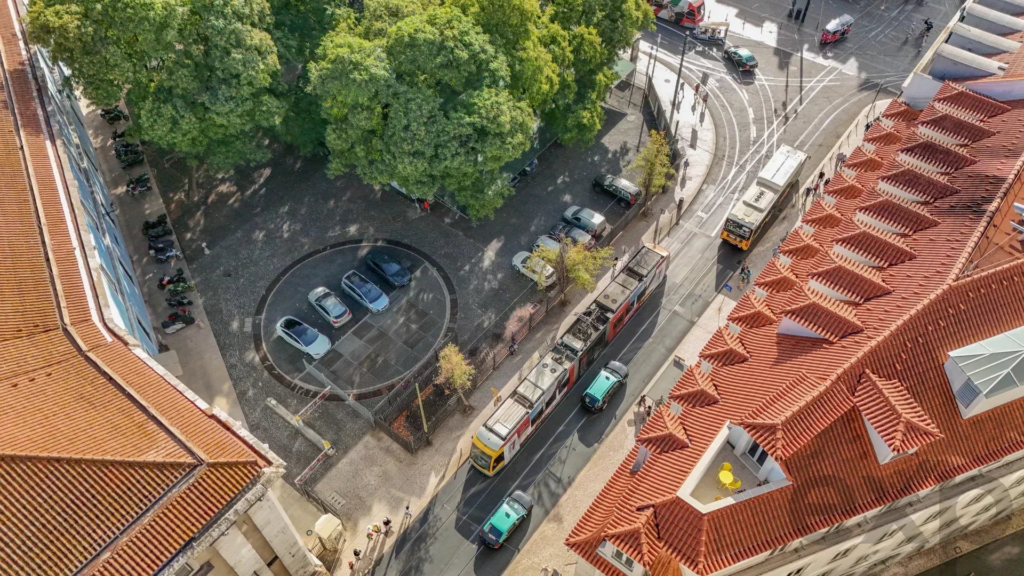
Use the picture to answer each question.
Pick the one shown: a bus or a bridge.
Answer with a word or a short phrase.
bus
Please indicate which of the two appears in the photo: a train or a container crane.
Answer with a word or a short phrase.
train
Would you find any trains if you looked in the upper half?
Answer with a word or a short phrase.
Yes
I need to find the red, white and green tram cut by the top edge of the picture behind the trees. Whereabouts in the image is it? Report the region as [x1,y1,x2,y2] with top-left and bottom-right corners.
[644,0,697,28]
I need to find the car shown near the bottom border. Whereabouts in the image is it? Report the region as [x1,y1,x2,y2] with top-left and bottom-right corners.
[477,487,534,557]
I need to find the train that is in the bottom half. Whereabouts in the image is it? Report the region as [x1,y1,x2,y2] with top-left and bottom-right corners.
[466,251,666,480]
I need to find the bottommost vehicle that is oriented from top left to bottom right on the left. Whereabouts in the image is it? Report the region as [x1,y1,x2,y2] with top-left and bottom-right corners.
[277,317,329,360]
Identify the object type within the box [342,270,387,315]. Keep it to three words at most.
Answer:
car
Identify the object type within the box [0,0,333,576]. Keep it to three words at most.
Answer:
building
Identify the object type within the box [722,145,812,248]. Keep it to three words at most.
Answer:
bus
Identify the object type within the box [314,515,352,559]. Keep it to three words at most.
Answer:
building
